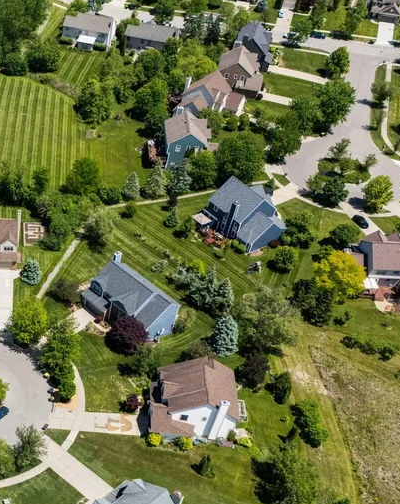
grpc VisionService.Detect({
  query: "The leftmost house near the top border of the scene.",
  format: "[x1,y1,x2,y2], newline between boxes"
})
[72,12,115,54]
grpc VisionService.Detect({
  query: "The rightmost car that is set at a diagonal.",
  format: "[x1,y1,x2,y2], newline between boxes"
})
[351,215,371,229]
